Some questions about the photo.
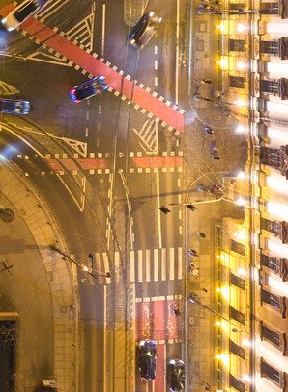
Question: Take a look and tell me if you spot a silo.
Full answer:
No, the picture doesn't show any silo.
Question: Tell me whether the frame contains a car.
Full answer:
Yes, I can see a car in this picture.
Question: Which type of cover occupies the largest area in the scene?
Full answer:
The largest share of the image is taken up by paved ground.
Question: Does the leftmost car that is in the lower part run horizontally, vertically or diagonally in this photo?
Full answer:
Seen from above, the leftmost car that is in the lower part lies vertically.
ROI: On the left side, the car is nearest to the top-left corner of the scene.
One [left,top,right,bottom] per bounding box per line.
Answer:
[5,0,43,30]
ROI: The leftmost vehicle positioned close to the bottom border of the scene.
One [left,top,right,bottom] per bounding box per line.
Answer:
[139,341,160,384]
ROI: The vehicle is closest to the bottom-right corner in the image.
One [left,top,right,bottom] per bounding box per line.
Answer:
[169,356,191,392]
